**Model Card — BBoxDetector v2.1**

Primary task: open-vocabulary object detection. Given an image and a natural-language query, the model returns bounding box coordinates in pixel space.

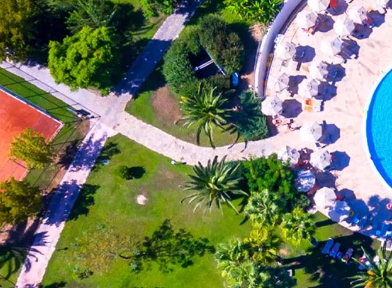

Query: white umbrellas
[296,78,320,103]
[298,120,322,142]
[309,151,331,173]
[307,0,327,12]
[331,17,353,38]
[370,0,388,7]
[348,3,370,25]
[272,71,293,90]
[295,10,317,31]
[276,42,298,63]
[311,63,331,83]
[264,98,285,118]
[322,36,345,58]
[315,185,338,206]
[276,146,301,169]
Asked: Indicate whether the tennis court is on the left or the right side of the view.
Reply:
left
